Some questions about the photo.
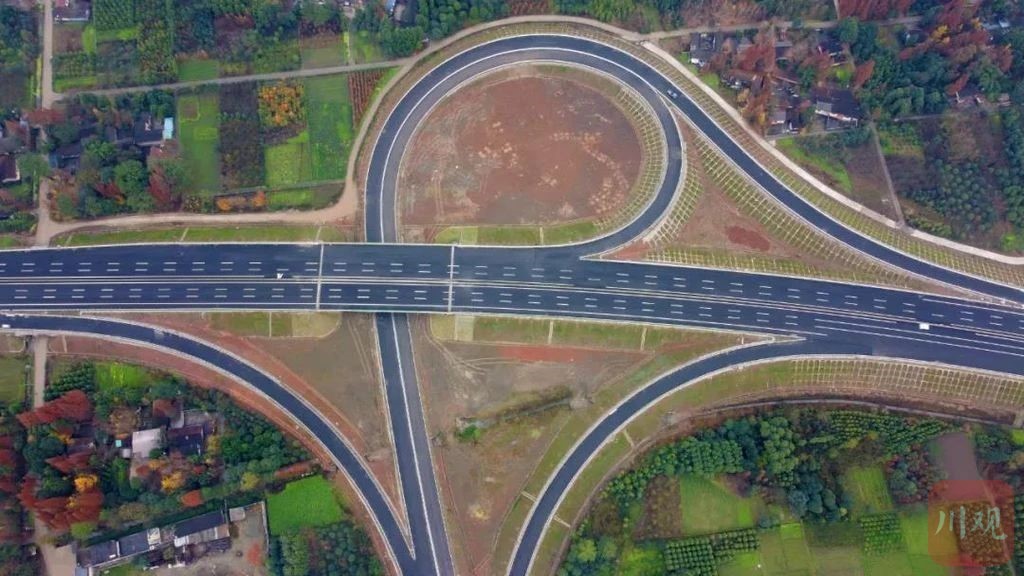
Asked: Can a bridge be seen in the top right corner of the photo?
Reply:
No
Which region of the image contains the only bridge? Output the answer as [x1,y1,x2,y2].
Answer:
[317,242,454,315]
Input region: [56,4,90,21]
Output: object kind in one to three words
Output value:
house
